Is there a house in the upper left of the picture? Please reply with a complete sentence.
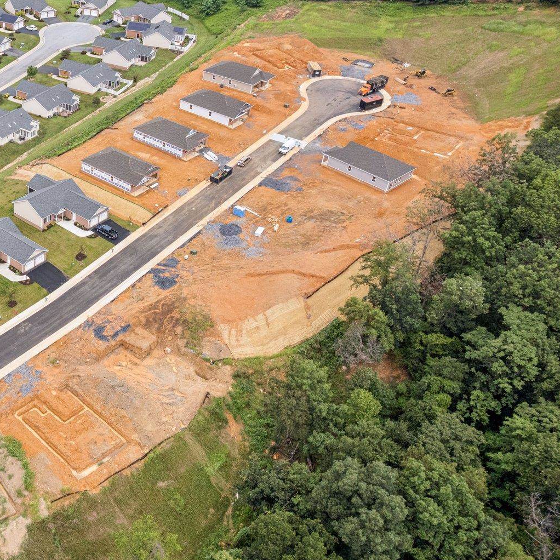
Yes, looking in the upper left of the picture, one can make out a house.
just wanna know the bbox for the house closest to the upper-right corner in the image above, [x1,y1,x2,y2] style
[316,135,415,193]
